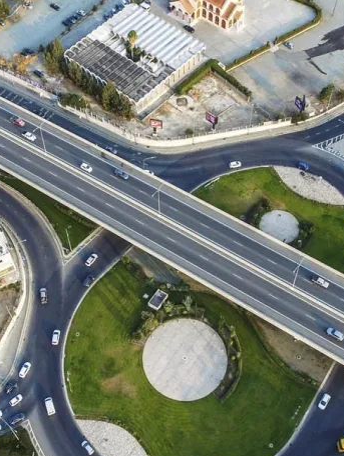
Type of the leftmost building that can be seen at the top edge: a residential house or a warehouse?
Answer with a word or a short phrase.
warehouse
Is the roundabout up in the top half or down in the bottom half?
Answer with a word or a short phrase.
bottom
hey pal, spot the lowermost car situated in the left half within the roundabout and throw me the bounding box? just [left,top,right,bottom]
[80,438,94,455]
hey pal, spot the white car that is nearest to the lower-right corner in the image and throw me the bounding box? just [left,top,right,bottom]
[317,393,330,409]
